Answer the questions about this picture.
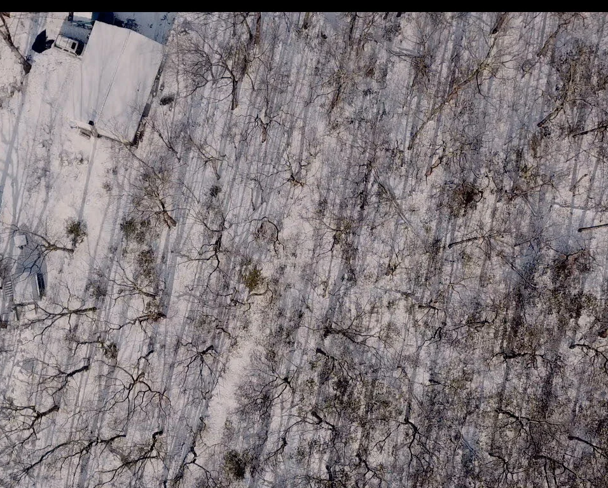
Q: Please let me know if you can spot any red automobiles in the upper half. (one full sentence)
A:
No, the scene shows no red automobile in the upper half.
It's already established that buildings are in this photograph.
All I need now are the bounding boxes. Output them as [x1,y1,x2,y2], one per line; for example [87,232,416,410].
[61,20,169,143]
[8,273,37,305]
